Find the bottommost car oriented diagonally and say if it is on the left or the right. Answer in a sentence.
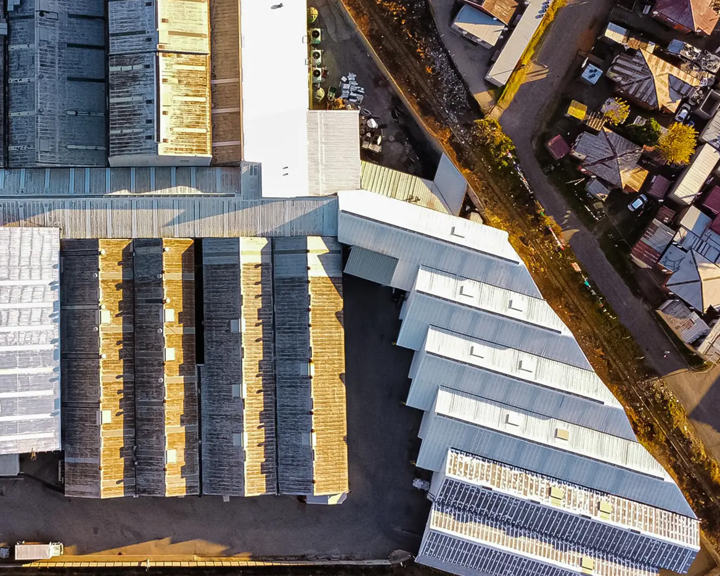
The bottommost car oriented diagonally sits on the right side.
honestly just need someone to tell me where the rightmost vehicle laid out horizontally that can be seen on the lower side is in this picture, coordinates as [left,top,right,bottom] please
[14,544,64,566]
